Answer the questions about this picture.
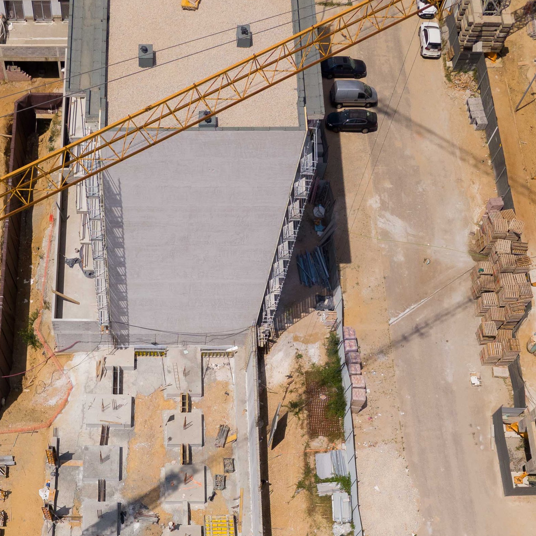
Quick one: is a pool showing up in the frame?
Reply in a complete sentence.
No, the picture doesn't show any pool.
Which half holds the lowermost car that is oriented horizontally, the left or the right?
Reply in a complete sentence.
The lowermost car that is oriented horizontally is on the right side of the image.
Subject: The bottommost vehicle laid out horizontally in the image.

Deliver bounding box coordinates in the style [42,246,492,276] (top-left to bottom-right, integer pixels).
[326,110,378,135]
